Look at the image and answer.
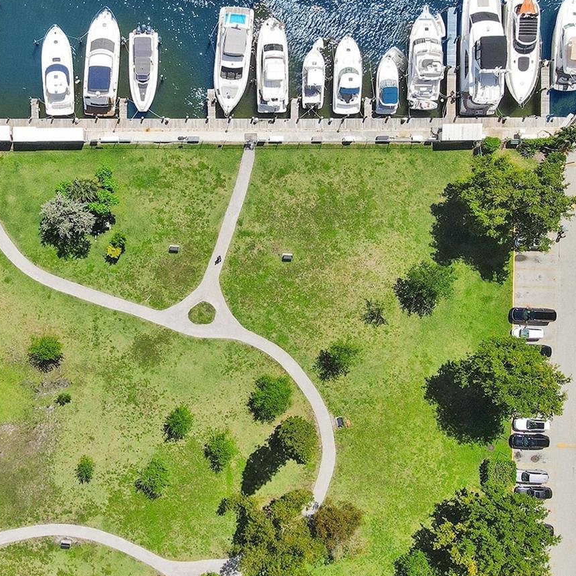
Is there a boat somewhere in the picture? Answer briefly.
Yes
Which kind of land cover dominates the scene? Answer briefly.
grass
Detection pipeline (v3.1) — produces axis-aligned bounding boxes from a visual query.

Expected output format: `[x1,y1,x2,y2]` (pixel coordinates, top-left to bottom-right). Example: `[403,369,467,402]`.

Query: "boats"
[436,16,447,38]
[373,53,401,118]
[301,38,328,115]
[212,4,254,118]
[548,0,576,96]
[254,14,290,117]
[83,2,123,118]
[128,26,160,112]
[455,0,506,118]
[502,0,549,110]
[40,20,77,118]
[389,46,406,77]
[407,100,437,112]
[404,3,452,101]
[330,31,365,118]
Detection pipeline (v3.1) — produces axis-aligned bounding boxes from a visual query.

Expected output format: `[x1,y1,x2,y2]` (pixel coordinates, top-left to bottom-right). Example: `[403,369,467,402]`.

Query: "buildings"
[434,123,483,143]
[14,128,85,144]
